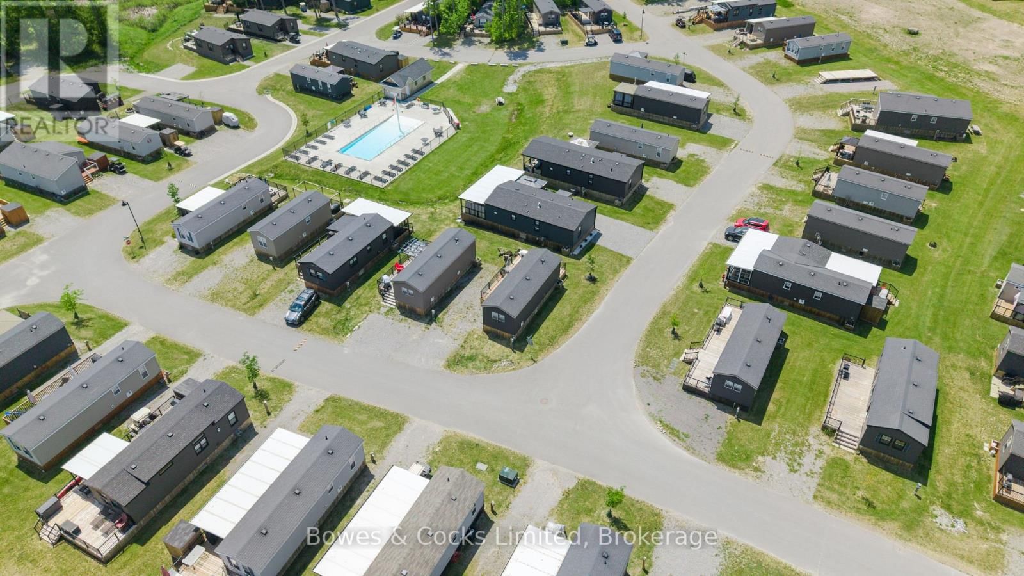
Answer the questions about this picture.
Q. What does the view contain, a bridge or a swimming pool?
swimming pool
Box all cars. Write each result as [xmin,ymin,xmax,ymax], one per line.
[722,225,761,240]
[734,216,771,233]
[282,290,319,325]
[609,30,623,43]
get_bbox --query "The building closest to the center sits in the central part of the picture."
[481,249,562,339]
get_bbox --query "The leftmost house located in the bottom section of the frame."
[0,312,75,401]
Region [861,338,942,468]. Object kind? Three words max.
house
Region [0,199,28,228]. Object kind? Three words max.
shed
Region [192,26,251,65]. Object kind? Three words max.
house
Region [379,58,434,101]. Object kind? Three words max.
building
